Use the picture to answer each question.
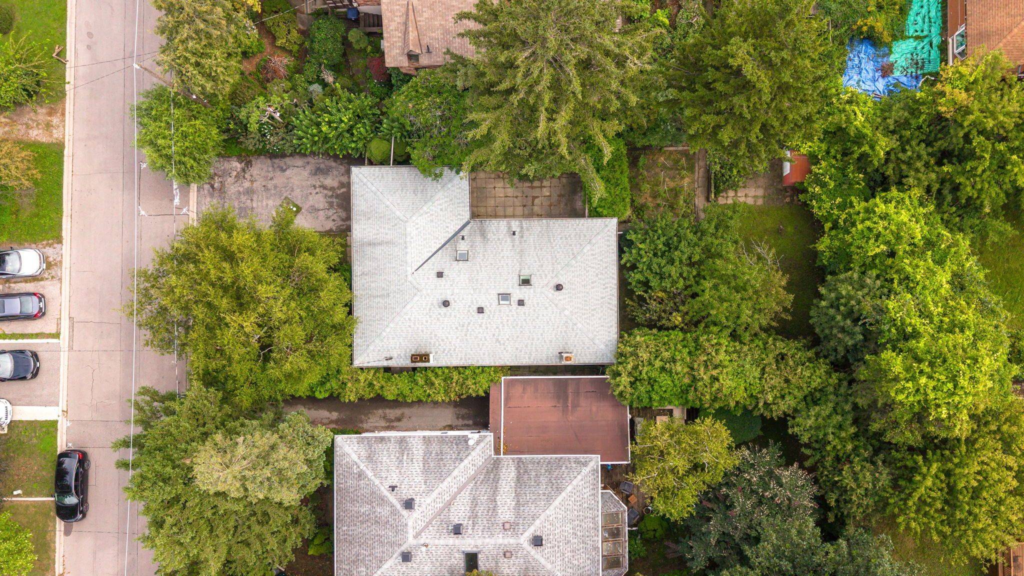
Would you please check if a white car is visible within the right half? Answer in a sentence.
No, there is no white car within the right half.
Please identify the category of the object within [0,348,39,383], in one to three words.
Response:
car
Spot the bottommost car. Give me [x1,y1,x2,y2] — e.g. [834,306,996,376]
[50,448,90,522]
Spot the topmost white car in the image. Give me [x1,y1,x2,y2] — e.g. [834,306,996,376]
[0,246,46,280]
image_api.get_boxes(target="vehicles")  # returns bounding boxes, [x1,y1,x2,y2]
[0,246,46,280]
[0,291,46,321]
[50,448,90,522]
[0,348,39,383]
[0,398,12,431]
